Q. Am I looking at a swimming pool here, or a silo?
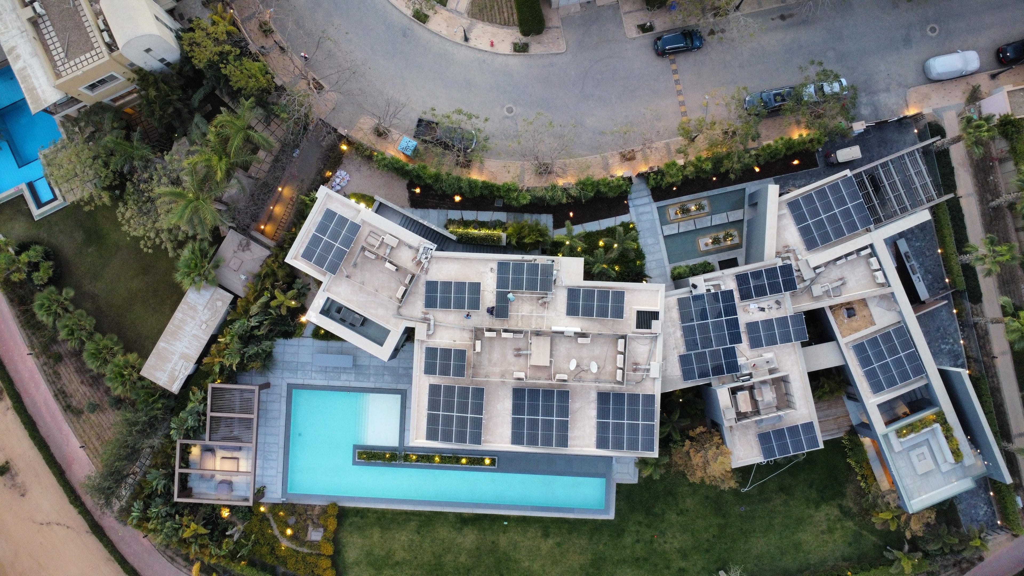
swimming pool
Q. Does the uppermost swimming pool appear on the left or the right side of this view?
left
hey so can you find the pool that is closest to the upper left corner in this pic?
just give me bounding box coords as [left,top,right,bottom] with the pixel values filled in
[0,68,73,221]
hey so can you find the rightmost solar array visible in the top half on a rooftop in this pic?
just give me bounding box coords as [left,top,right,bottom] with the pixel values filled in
[787,176,874,252]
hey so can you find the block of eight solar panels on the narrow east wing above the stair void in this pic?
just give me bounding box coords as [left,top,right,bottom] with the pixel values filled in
[852,326,922,395]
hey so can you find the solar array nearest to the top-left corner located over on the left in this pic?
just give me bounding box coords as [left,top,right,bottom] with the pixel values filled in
[301,208,362,275]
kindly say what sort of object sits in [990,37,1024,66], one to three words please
car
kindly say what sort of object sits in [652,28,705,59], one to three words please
car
